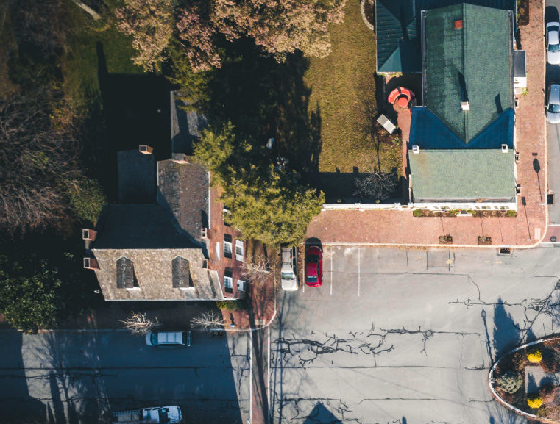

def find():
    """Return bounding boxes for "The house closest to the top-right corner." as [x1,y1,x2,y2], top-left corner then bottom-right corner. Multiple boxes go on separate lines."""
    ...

[376,0,528,219]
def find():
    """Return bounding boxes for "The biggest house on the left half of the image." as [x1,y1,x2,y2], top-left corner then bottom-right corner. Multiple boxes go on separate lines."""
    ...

[78,145,243,307]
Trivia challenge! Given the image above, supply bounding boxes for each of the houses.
[376,0,528,219]
[78,145,243,307]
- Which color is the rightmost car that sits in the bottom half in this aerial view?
red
